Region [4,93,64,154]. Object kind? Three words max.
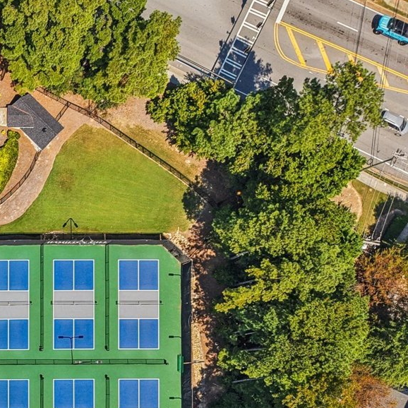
building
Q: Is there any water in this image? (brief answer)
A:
No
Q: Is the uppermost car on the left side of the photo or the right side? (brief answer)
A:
right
